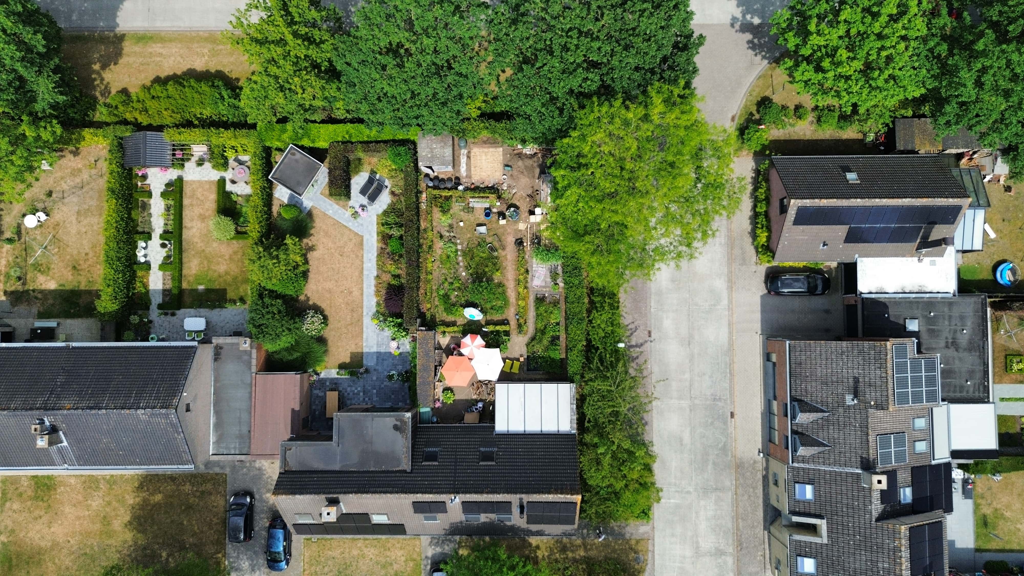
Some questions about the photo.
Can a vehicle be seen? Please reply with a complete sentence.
Yes, the photo shows a vehicle.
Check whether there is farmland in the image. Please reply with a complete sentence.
No, farmland can't be seen anywhere here.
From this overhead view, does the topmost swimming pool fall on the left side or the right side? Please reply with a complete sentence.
The topmost swimming pool is on the right side of the image.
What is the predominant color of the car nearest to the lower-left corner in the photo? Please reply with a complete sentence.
The car nearest to the lower-left corner looks black in the image.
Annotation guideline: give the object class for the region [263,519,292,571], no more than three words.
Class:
car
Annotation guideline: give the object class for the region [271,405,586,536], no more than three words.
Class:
house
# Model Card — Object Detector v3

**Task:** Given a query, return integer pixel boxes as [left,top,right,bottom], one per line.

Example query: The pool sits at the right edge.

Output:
[986,258,1023,291]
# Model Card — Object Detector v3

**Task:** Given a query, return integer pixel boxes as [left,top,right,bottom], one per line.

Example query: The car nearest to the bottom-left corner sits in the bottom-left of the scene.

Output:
[225,492,255,543]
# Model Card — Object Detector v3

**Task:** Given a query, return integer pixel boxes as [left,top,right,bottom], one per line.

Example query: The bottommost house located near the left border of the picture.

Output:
[0,340,213,471]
